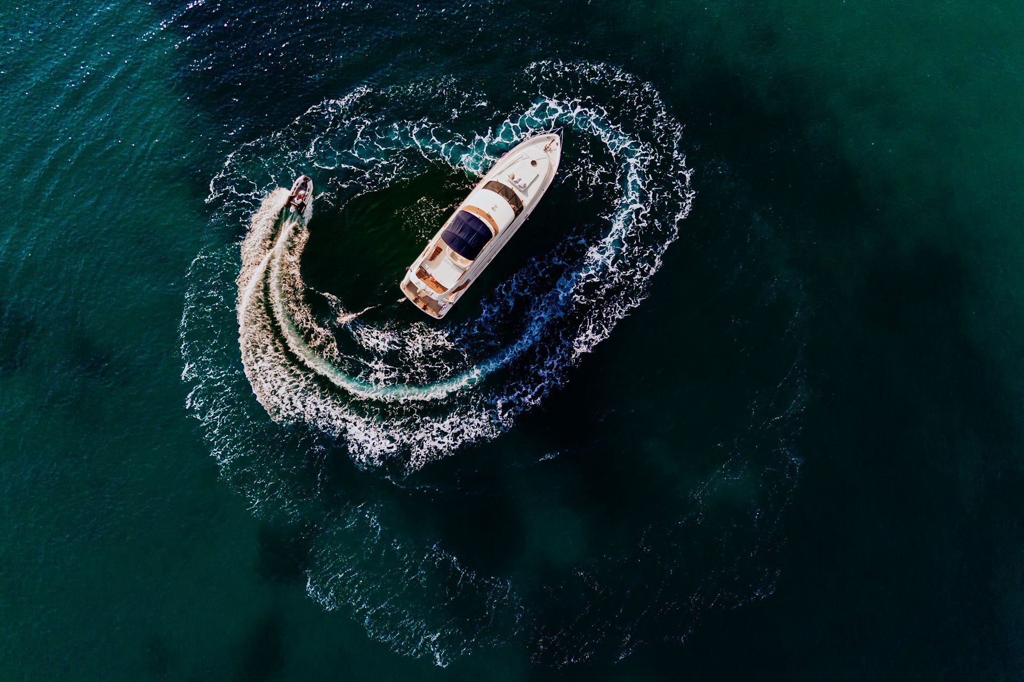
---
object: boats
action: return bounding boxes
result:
[284,173,313,215]
[402,125,563,320]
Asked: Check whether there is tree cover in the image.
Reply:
No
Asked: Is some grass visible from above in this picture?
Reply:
No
